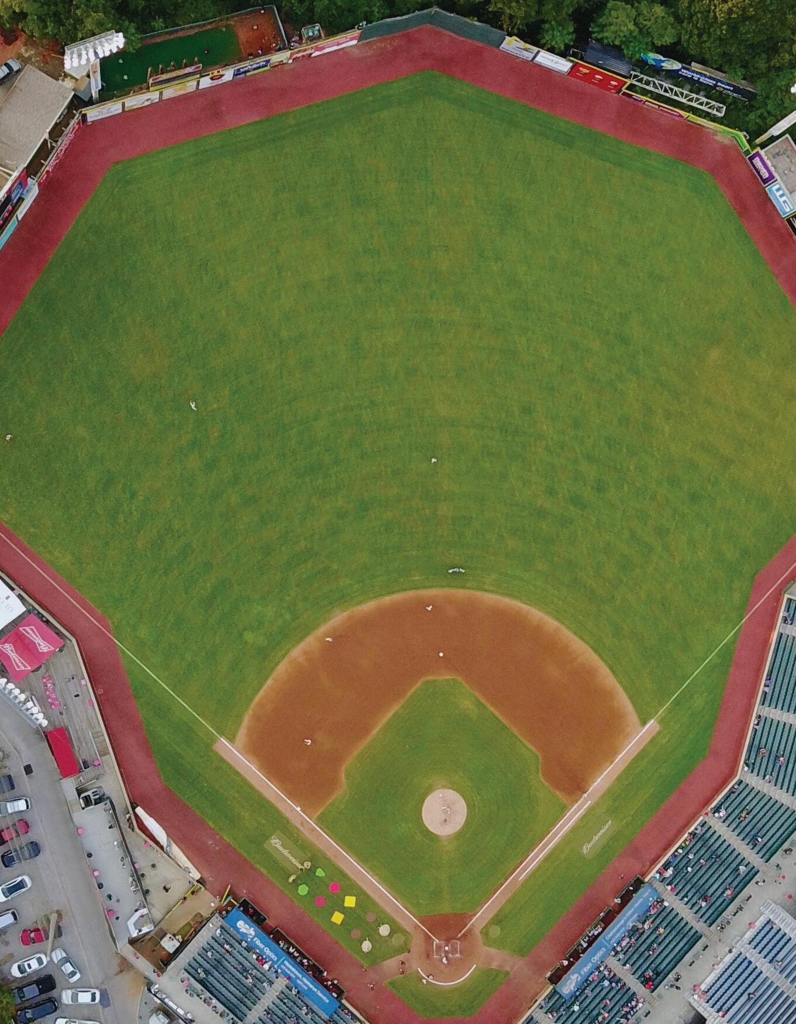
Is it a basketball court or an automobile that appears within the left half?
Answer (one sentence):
The feature located within the left half is an automobile.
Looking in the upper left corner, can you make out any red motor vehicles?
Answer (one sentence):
No, no red motor vehicle can be made out in the upper left corner.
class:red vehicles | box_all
[15,924,56,946]
[0,818,31,845]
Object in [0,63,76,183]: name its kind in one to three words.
building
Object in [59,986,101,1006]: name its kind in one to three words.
car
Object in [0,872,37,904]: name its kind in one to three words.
car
